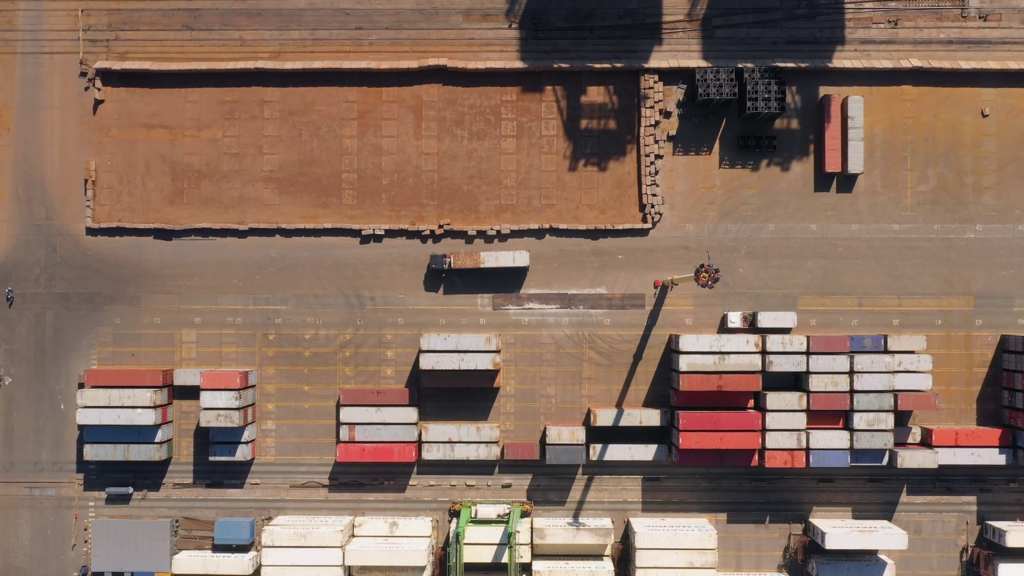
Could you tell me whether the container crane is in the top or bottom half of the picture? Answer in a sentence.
You can find the container crane in the bottom half.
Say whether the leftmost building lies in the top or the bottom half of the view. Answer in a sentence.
The leftmost building sits in the bottom half of the picture.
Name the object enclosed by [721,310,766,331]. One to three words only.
truck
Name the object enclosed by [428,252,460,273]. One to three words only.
truck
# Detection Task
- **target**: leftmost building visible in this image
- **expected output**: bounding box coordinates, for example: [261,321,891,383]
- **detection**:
[91,517,176,571]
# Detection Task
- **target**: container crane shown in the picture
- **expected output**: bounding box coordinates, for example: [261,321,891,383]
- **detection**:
[444,501,539,576]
